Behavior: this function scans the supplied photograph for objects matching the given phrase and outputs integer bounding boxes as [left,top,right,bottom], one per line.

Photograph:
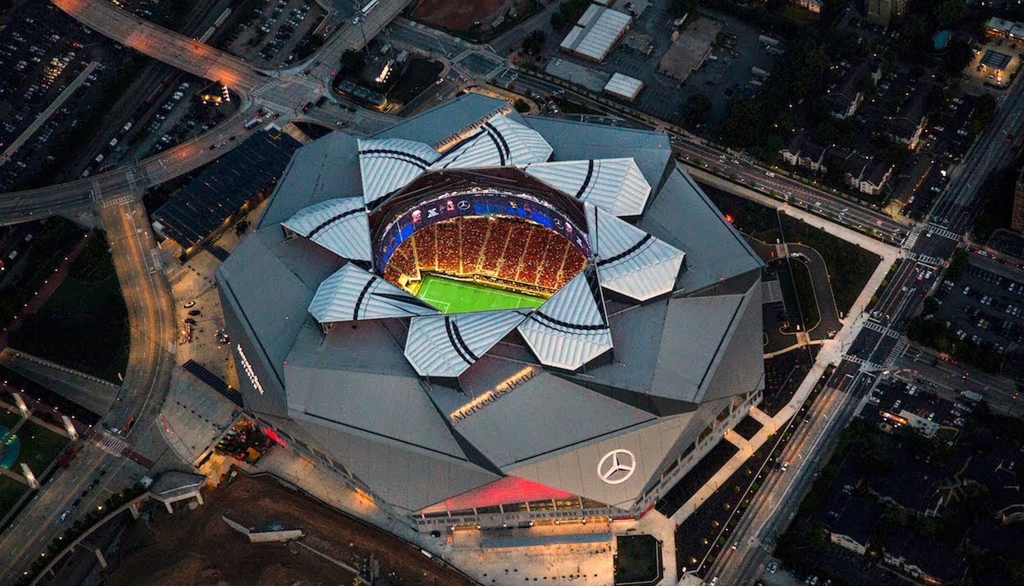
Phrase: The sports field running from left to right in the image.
[415,273,549,311]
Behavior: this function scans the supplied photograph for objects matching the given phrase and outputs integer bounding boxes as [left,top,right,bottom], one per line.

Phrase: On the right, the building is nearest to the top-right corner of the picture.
[987,17,1024,45]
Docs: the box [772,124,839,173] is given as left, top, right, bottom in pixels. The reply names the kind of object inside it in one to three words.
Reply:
house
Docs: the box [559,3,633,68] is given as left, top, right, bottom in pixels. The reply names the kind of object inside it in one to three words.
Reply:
building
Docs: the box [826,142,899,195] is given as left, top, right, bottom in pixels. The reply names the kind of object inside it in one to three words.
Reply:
house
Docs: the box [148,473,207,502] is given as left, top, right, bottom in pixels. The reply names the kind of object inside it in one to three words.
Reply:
building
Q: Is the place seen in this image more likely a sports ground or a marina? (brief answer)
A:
sports ground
